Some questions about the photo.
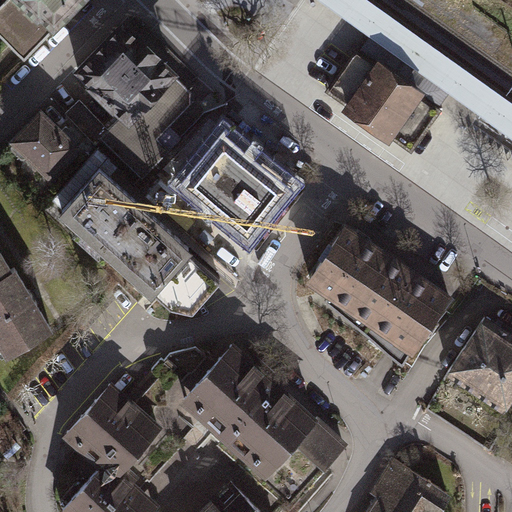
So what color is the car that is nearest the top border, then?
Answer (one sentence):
In this view, the car that is nearest the top border is black.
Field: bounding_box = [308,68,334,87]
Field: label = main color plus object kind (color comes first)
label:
black car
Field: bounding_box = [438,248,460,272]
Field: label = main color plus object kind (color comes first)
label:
white car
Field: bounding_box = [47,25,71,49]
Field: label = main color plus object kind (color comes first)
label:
white vehicle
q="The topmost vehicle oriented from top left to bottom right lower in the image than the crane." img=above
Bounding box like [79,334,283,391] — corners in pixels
[215,244,242,269]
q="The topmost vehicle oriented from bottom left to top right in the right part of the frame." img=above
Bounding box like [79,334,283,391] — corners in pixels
[414,131,434,155]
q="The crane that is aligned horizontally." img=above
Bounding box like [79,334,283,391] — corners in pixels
[89,193,316,238]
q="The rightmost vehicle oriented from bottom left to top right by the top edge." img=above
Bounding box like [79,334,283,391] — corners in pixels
[76,0,98,20]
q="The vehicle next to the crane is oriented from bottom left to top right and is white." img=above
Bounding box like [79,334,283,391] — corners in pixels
[256,238,280,268]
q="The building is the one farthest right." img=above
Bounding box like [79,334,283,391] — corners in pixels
[448,322,512,417]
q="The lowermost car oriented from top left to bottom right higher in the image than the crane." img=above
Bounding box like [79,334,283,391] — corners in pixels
[277,134,302,156]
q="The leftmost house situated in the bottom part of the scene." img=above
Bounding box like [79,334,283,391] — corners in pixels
[0,262,52,360]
